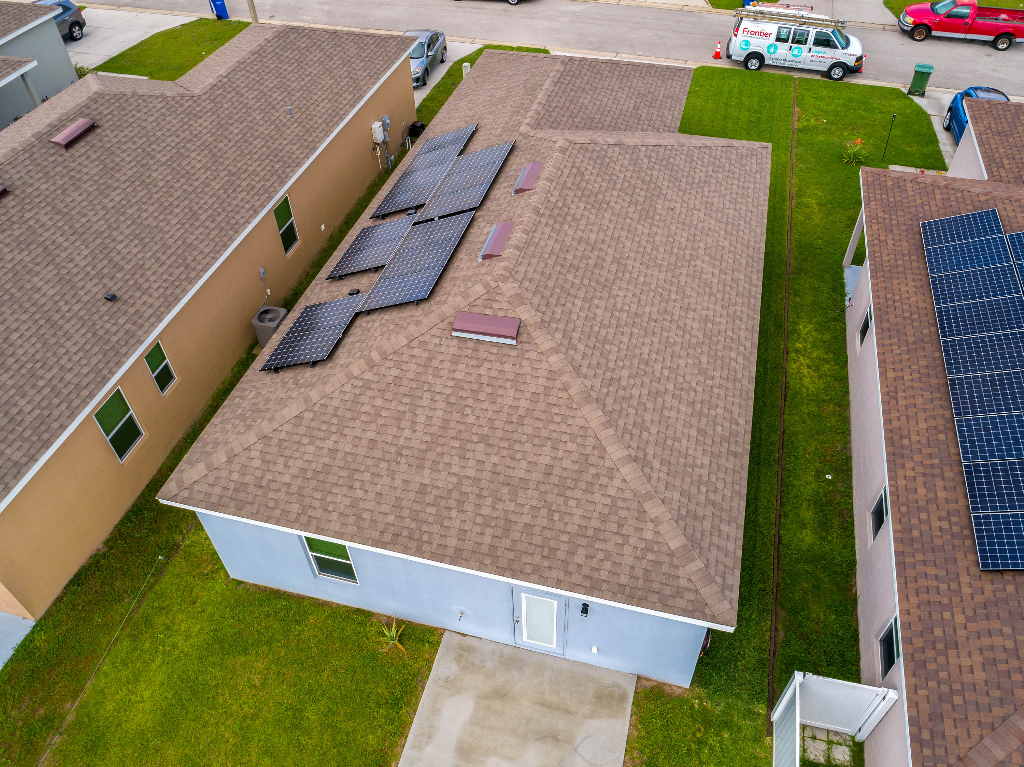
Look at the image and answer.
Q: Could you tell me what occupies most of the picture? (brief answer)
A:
buildings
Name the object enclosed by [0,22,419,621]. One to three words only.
house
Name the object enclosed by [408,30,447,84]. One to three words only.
car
